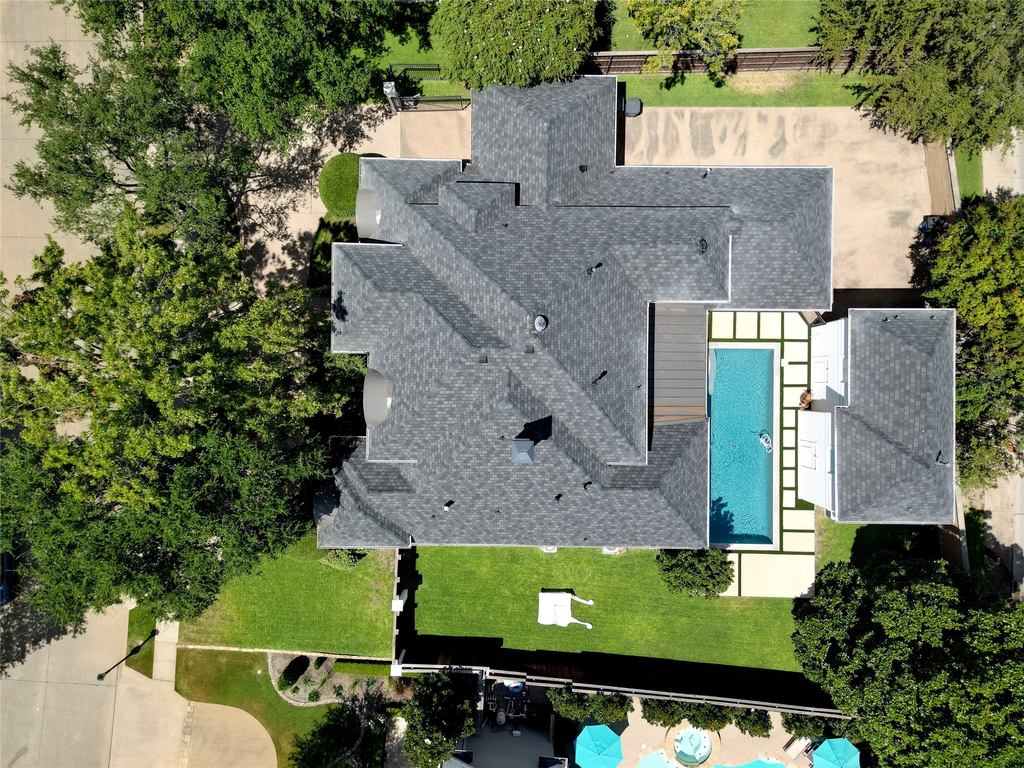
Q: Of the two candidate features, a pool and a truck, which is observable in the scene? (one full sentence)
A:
The one in the frame is a pool.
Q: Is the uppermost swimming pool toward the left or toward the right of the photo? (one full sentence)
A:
The uppermost swimming pool is on the right side of the image.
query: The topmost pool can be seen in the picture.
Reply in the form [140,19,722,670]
[690,342,787,552]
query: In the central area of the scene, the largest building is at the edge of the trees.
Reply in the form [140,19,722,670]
[310,75,835,549]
